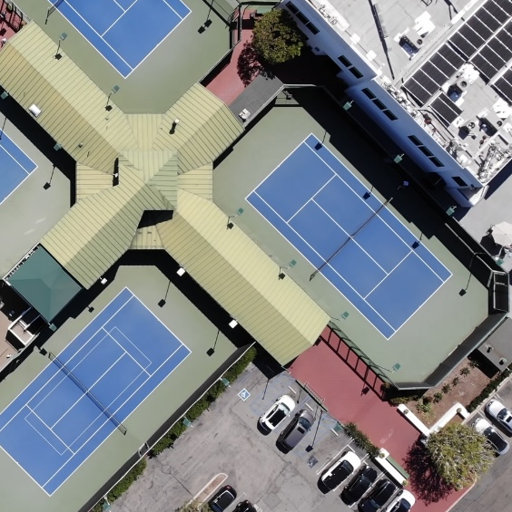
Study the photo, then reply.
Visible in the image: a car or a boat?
car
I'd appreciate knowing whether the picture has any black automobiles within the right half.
Yes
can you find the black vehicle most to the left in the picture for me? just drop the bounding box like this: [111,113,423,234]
[209,482,238,512]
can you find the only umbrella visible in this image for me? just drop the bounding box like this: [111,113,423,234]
[489,222,512,246]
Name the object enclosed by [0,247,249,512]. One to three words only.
tennis court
